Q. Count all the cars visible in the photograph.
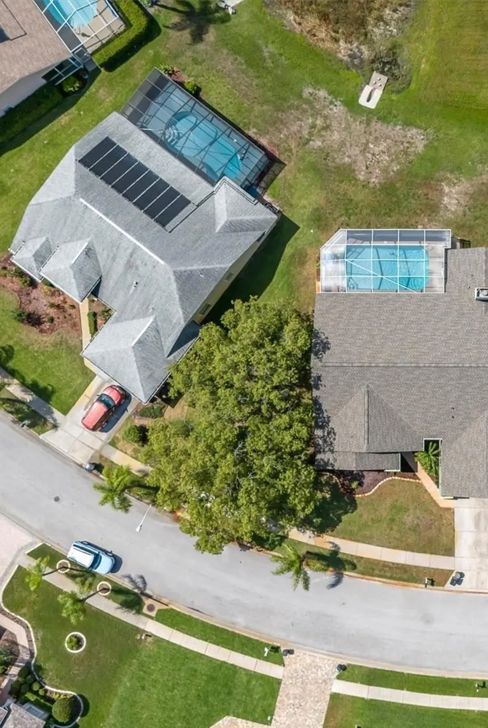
2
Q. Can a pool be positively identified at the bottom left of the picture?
No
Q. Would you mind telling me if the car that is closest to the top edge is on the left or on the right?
left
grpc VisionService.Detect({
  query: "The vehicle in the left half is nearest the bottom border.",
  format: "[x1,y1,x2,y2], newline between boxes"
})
[65,539,117,575]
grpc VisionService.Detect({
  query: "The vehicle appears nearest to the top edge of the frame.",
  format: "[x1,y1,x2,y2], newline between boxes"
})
[83,384,126,433]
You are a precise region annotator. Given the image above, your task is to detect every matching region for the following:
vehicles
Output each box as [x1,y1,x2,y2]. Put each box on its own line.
[83,384,126,433]
[65,539,117,575]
